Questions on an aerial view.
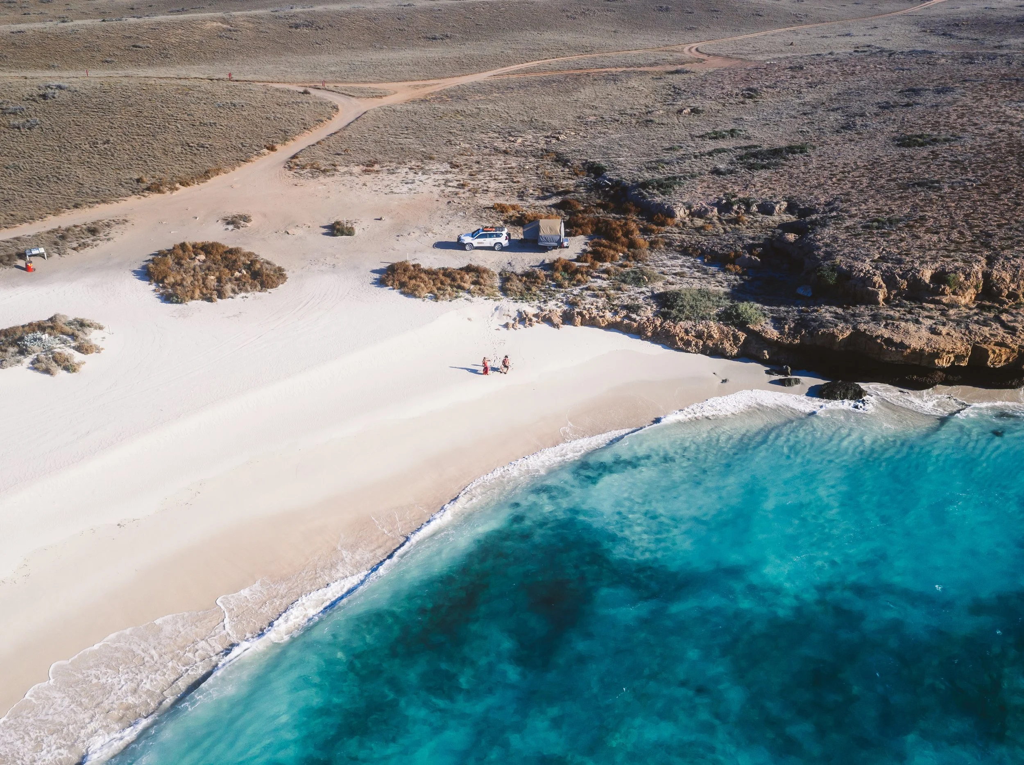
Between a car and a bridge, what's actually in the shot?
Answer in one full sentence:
It is a car that can be seen here.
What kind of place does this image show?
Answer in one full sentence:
It's a beach.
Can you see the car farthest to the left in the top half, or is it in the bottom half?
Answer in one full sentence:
The car farthest to the left is in the top half of the image.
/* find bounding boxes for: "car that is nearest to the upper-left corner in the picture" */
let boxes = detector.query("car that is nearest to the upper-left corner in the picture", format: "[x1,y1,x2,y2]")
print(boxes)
[455,223,512,251]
